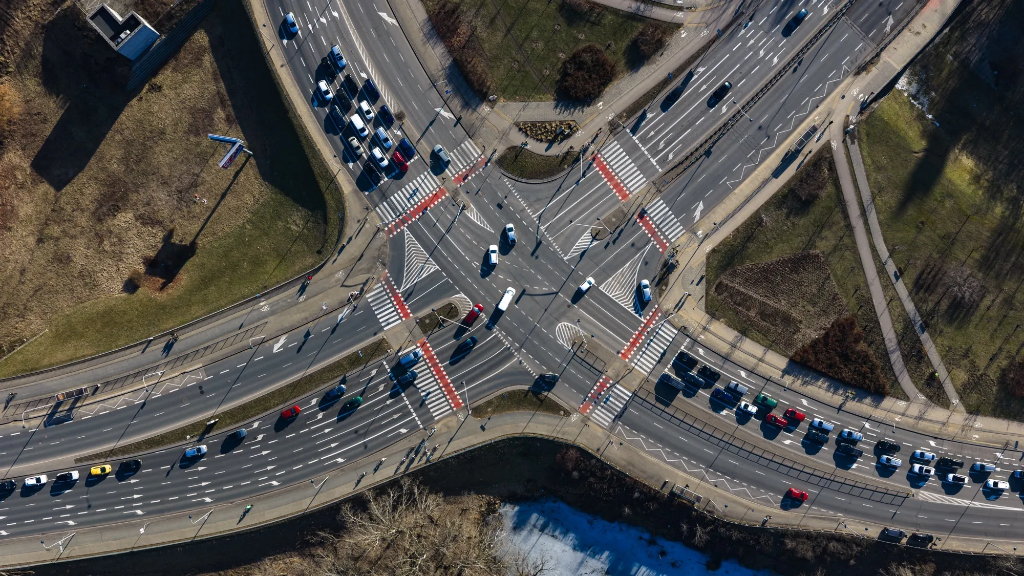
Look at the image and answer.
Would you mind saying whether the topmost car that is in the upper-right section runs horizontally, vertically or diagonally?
diagonally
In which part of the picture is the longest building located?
top left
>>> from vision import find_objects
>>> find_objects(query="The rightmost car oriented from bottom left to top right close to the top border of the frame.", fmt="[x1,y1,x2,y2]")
[783,8,809,35]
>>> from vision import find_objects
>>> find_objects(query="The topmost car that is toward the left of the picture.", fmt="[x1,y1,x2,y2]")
[284,11,300,34]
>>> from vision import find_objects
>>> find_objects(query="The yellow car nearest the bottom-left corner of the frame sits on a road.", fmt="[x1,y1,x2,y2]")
[90,464,113,476]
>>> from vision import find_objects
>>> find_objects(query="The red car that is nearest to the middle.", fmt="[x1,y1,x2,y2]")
[463,303,482,326]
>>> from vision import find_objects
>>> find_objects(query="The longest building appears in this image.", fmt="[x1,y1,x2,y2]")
[86,3,164,61]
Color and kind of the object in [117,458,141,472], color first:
black car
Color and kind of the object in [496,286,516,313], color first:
white vehicle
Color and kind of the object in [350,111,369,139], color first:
white vehicle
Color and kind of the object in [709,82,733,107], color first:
black car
